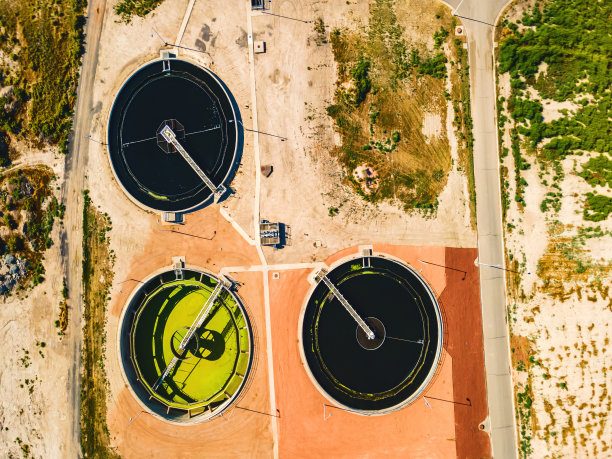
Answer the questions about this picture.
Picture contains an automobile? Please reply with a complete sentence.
No, no automobile is visible in the scene.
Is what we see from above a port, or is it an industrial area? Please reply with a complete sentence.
It's an industrial area.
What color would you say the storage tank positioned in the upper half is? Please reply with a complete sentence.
The storage tank positioned in the upper half looks black in the image.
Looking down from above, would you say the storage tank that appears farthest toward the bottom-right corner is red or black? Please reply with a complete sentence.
The color of the storage tank that appears farthest toward the bottom-right corner is black.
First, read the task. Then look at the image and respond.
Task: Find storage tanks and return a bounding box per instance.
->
[298,252,442,414]
[116,265,252,426]
[106,57,240,213]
